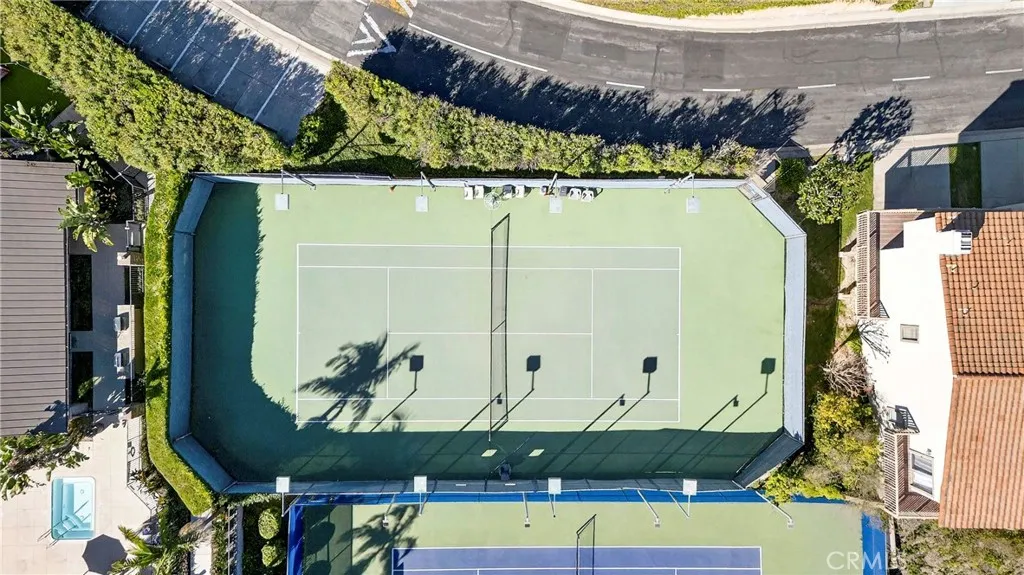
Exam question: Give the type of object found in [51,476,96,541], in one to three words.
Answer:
swimming pool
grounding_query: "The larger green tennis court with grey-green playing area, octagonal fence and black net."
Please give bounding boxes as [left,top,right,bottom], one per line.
[197,186,785,477]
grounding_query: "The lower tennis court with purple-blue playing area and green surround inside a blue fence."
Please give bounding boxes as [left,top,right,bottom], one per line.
[306,503,861,575]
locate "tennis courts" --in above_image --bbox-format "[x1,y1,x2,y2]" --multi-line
[306,503,861,575]
[197,186,785,477]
